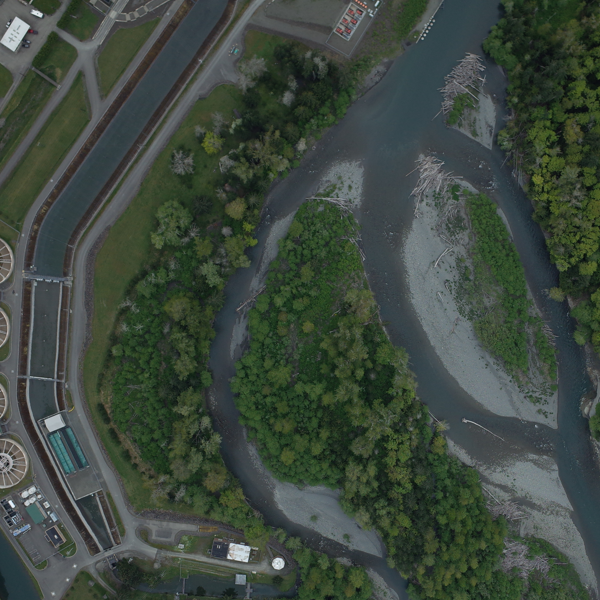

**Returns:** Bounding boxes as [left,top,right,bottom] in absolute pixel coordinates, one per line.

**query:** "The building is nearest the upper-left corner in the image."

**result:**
[0,16,33,54]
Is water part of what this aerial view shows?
Yes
